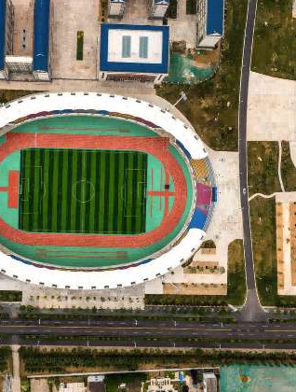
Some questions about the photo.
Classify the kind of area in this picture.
sports ground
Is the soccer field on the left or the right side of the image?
left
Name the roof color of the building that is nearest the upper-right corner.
blue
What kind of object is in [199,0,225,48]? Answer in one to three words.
building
